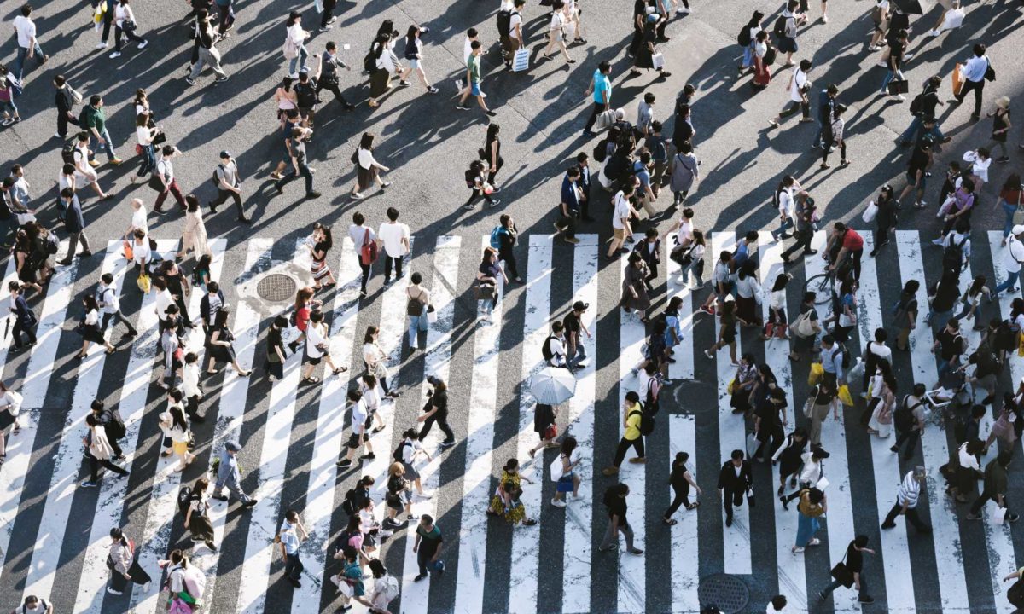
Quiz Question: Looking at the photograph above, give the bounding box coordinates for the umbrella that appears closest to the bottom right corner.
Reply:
[524,367,574,405]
